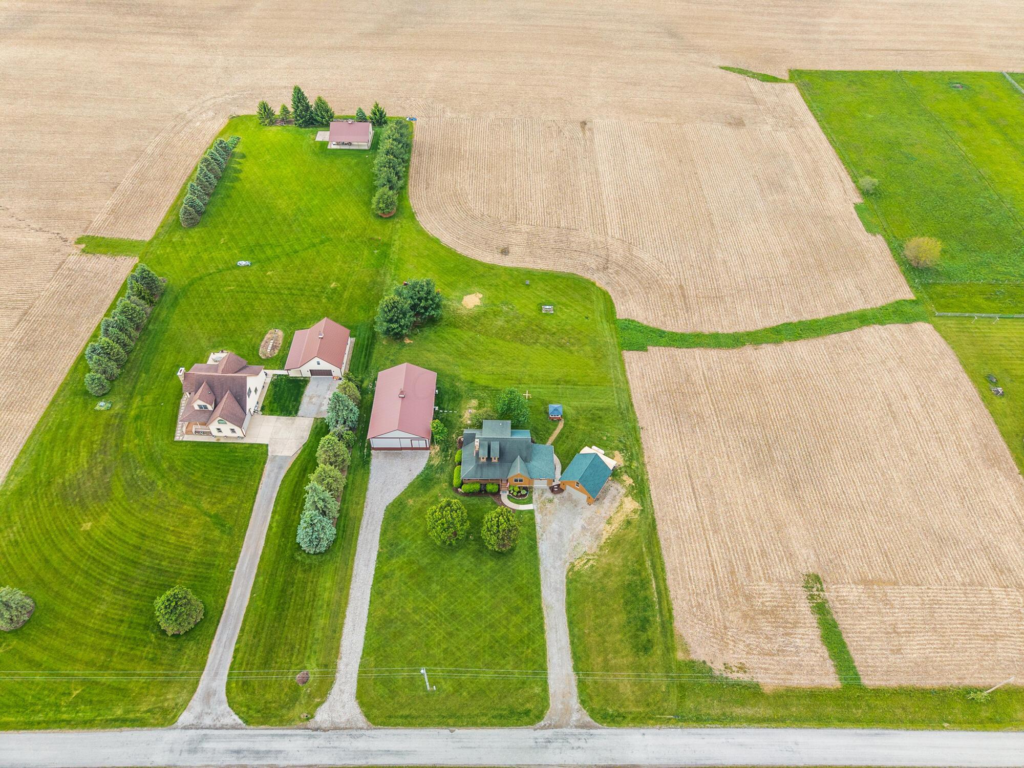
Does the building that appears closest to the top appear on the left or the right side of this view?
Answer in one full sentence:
The building that appears closest to the top sits on the left side.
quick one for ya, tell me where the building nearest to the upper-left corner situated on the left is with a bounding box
[328,121,372,147]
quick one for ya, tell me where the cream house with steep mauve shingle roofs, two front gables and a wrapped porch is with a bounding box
[177,351,266,436]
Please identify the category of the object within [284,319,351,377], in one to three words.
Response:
building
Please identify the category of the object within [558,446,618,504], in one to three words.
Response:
building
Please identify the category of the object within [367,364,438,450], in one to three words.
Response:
barn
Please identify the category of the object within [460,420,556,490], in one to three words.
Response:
house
